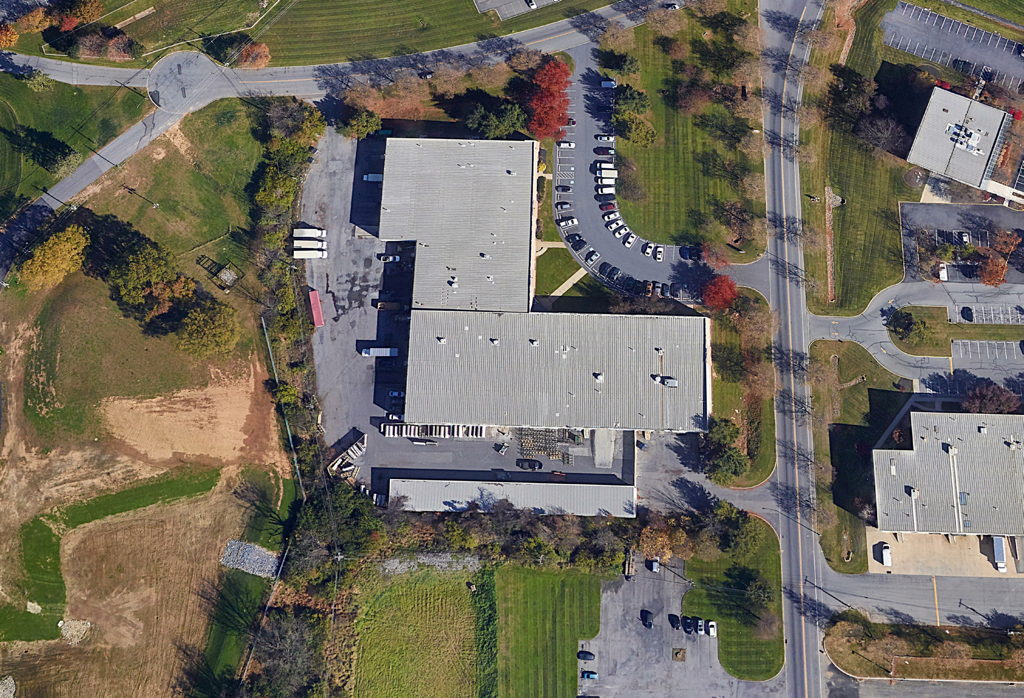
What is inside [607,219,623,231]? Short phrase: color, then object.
white vehicle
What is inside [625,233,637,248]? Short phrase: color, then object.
white vehicle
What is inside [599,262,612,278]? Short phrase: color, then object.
black vehicle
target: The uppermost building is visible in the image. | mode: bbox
[907,87,1016,192]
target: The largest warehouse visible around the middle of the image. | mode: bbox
[378,137,713,433]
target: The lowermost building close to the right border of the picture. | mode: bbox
[873,412,1024,561]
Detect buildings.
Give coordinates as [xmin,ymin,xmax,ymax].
[873,412,1024,561]
[388,479,638,519]
[378,137,713,433]
[907,87,1016,192]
